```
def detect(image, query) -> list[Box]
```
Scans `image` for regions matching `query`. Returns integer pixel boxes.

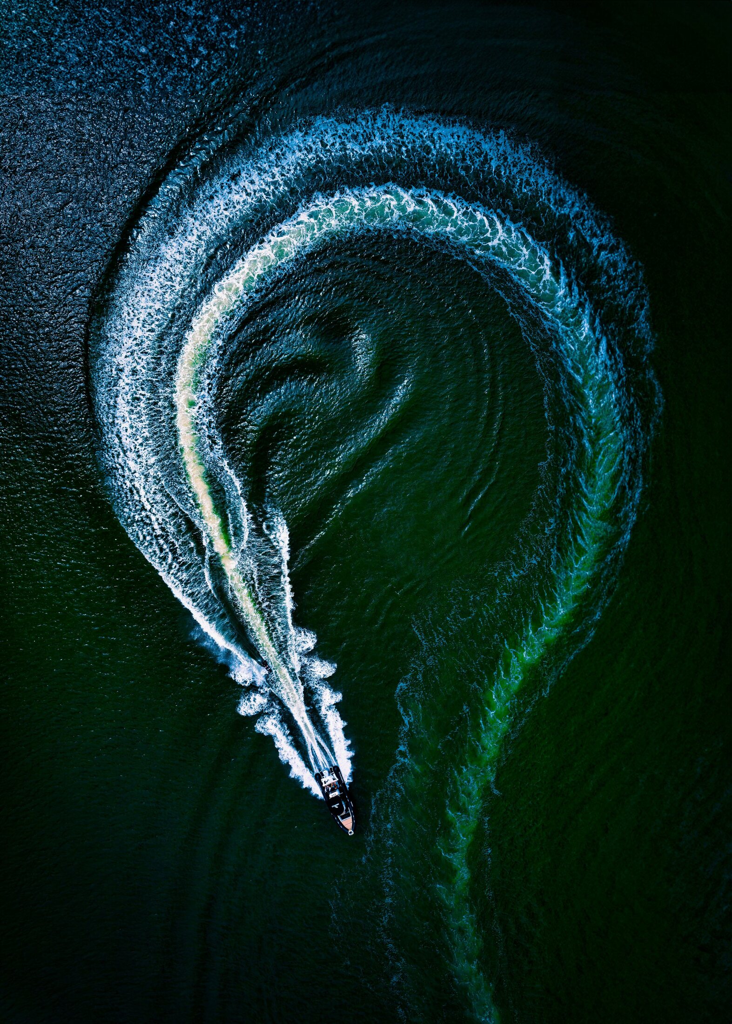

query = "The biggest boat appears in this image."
[315,766,355,837]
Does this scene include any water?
Yes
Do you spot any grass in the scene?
No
